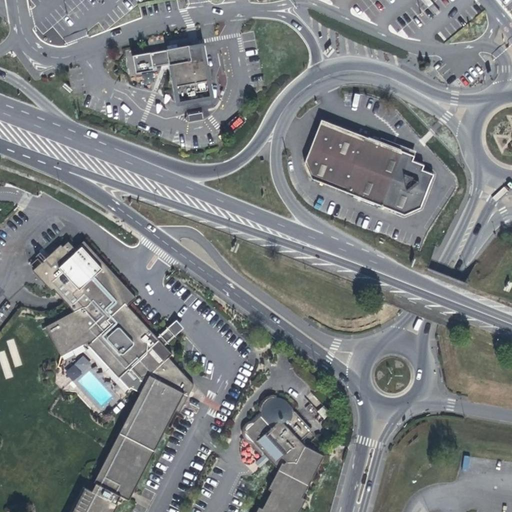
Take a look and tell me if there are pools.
Yes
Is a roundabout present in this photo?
Yes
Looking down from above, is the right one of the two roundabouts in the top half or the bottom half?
top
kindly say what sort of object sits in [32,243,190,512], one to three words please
building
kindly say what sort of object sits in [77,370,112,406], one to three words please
swimming pool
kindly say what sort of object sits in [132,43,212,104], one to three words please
house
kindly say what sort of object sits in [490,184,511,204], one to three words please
vehicle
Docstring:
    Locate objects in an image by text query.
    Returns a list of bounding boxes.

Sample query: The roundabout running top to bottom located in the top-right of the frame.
[460,79,512,191]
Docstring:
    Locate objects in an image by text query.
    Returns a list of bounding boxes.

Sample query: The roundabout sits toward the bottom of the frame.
[356,340,428,412]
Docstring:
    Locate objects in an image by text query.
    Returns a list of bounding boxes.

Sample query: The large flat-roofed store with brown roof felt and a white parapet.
[304,120,438,218]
